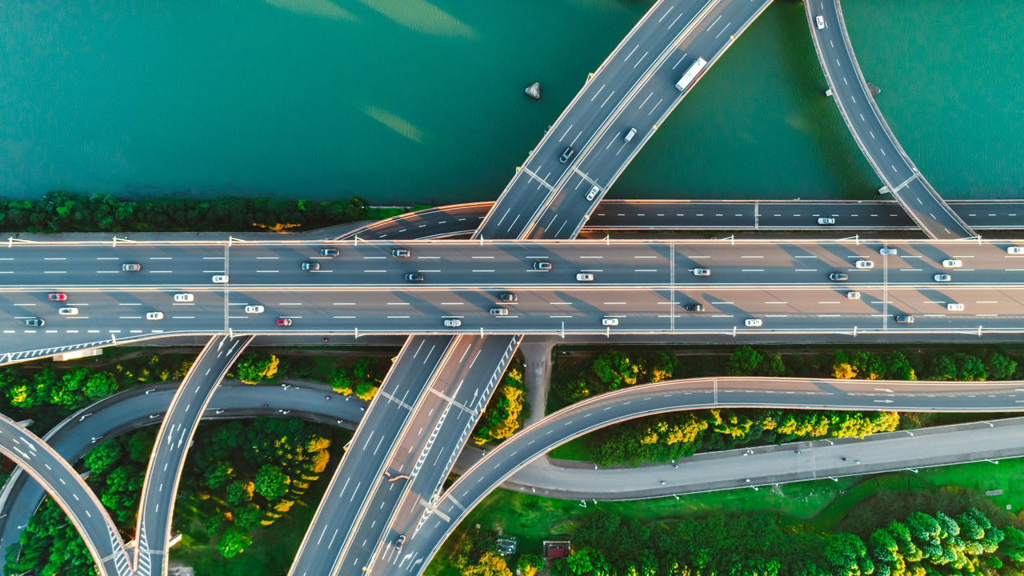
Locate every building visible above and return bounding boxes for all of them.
[550,546,564,558]
[496,536,517,554]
